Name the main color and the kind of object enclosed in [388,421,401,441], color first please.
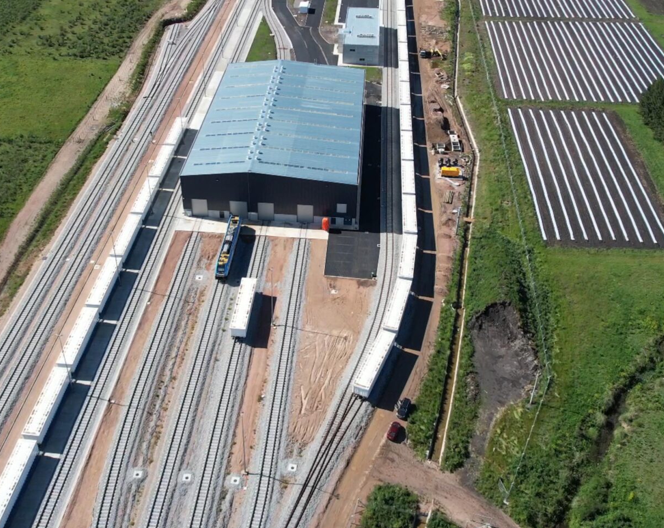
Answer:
red vehicle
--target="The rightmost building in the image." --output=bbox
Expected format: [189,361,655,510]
[334,7,379,65]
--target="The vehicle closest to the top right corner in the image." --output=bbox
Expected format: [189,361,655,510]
[419,41,449,58]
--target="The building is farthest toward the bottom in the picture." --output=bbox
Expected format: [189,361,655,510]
[178,59,366,224]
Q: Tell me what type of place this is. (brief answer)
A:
rail yard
